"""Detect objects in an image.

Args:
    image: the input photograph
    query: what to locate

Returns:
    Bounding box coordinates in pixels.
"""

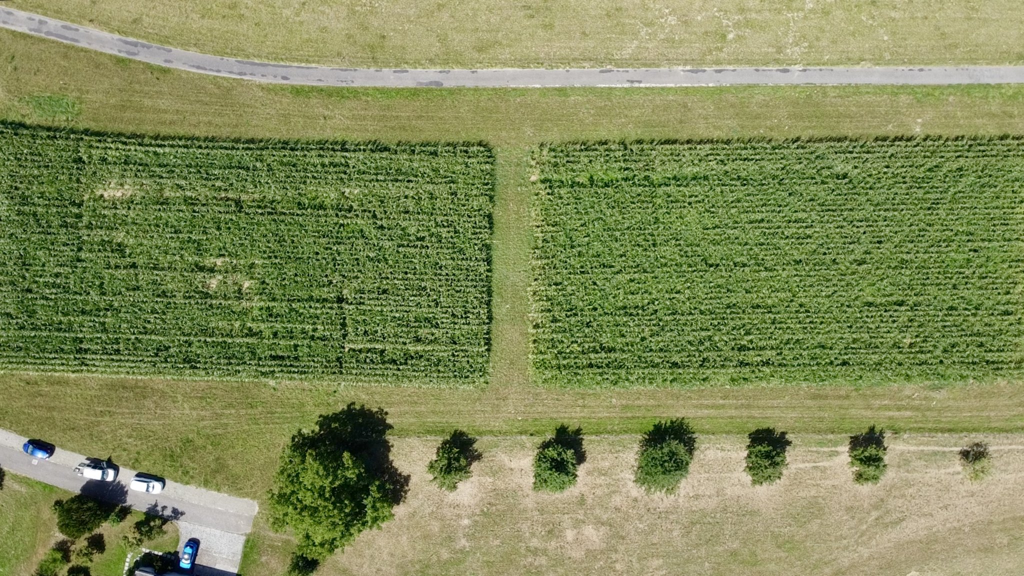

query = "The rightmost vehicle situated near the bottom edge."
[179,539,199,571]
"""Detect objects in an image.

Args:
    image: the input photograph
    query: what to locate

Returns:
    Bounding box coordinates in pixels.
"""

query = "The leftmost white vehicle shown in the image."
[72,459,118,483]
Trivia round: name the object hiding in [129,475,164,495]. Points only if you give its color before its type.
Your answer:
white car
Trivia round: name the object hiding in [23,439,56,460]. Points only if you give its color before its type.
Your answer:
blue car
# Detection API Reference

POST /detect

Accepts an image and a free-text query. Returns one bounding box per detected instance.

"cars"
[129,475,164,495]
[179,539,199,571]
[72,459,118,483]
[23,439,56,460]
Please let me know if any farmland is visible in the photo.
Yes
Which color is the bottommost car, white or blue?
blue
